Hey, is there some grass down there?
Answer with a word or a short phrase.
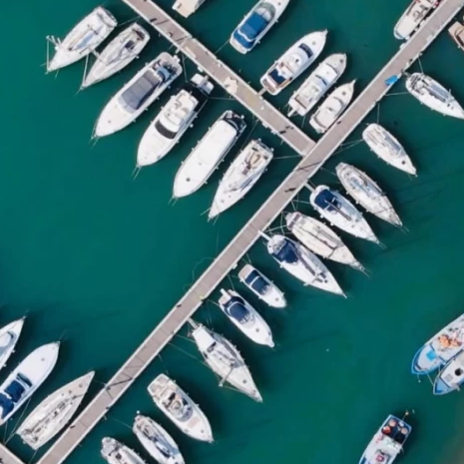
No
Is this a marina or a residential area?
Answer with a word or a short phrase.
marina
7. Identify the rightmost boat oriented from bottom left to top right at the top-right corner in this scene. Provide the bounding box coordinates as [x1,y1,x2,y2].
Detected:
[394,0,439,37]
